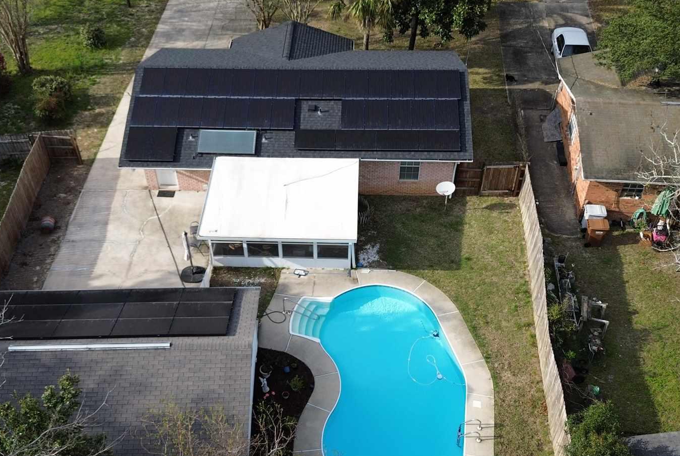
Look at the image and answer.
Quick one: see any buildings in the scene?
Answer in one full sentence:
Yes, this view includes a building.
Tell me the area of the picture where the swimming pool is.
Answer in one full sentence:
The swimming pool appears toward the bottom of the photo.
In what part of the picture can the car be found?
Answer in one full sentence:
You can find the car in the top right area of the picture.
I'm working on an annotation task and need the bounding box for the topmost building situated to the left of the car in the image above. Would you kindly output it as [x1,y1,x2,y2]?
[121,21,474,199]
